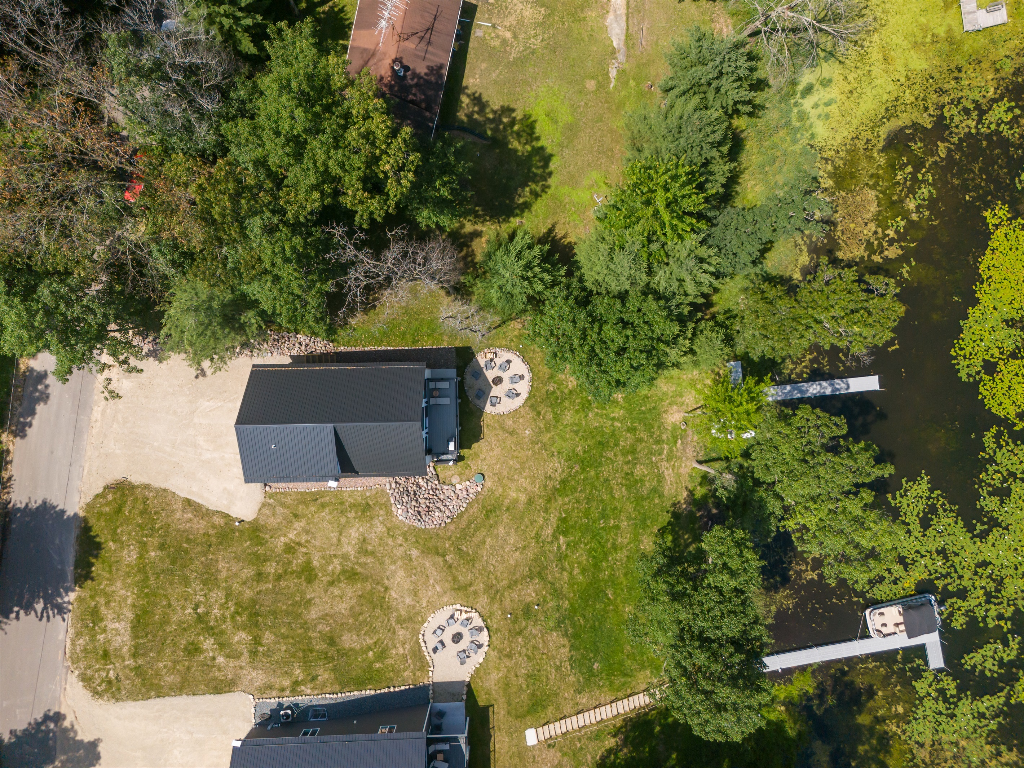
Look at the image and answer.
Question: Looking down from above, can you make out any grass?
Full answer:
Yes, the picture does contain grass.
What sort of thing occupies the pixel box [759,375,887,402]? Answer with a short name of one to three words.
pier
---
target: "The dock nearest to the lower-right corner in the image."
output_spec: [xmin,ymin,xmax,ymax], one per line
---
[759,630,950,673]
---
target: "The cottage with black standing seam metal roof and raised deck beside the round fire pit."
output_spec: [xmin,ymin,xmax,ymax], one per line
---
[233,361,463,489]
